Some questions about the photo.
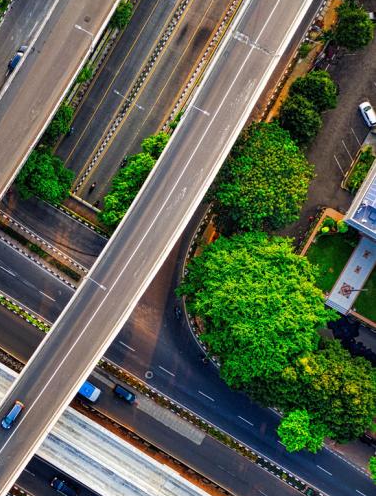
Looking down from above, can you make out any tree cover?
Yes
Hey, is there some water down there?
No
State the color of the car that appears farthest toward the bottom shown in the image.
black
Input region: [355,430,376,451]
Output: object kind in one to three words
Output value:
car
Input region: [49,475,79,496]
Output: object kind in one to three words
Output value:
car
